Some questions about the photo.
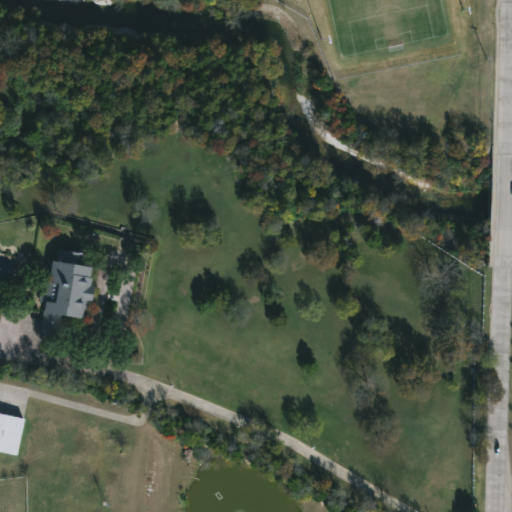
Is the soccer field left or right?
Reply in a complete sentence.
It is on the right.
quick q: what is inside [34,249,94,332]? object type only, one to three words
house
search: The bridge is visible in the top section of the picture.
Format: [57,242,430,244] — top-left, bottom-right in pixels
[490,128,512,268]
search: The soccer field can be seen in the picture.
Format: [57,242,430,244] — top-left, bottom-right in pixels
[328,0,448,58]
